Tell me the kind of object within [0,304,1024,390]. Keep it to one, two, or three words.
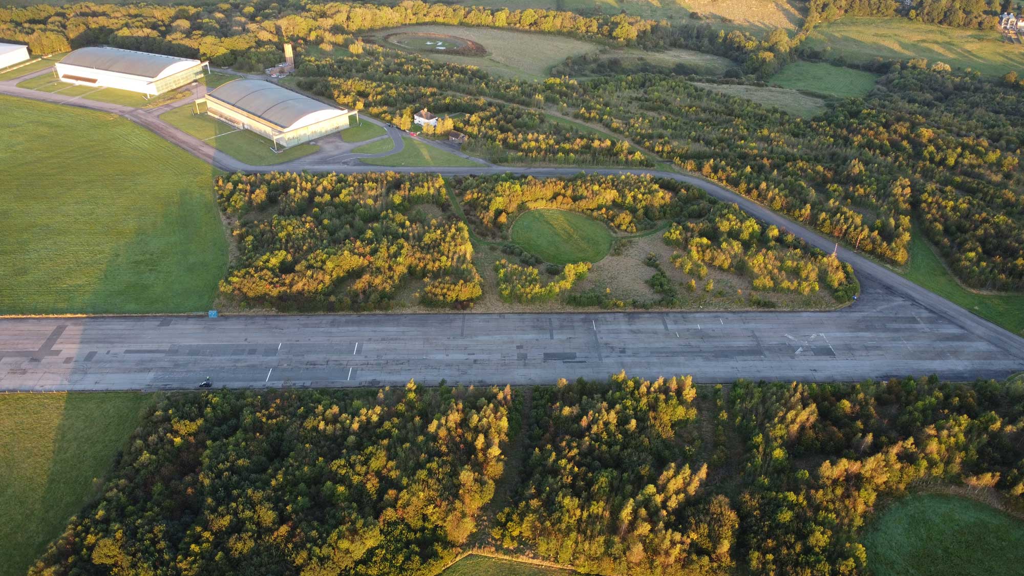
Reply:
runway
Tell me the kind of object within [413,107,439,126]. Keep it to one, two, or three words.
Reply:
house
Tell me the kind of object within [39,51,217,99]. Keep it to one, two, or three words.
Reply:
hangar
